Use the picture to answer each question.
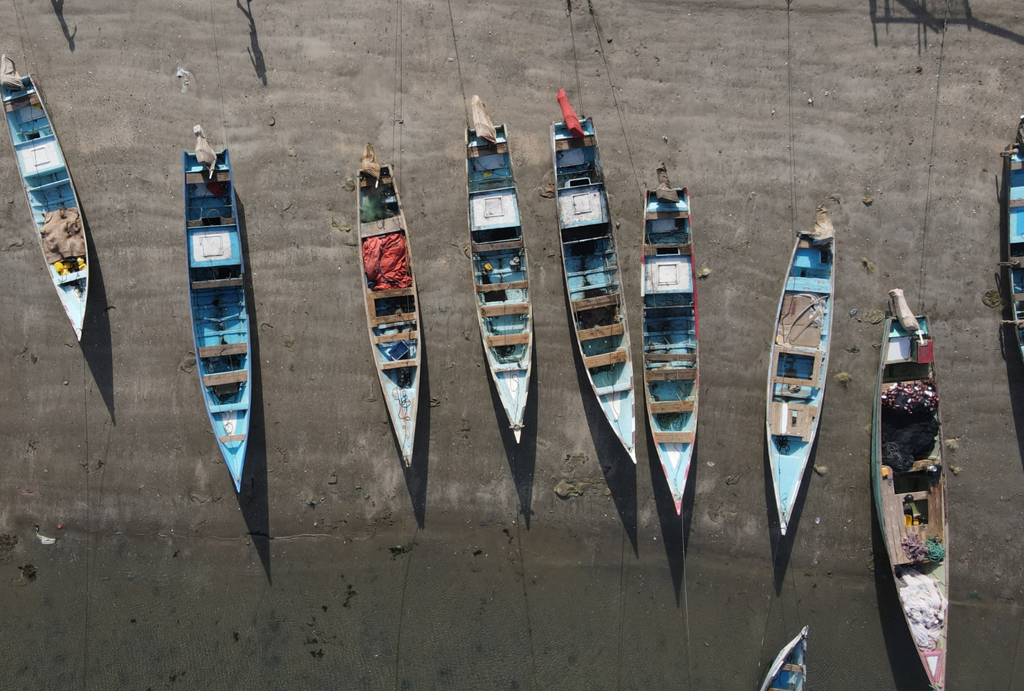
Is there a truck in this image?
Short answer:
No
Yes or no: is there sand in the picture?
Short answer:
Yes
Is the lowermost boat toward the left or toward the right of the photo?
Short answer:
right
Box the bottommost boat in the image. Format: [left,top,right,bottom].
[758,625,809,691]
